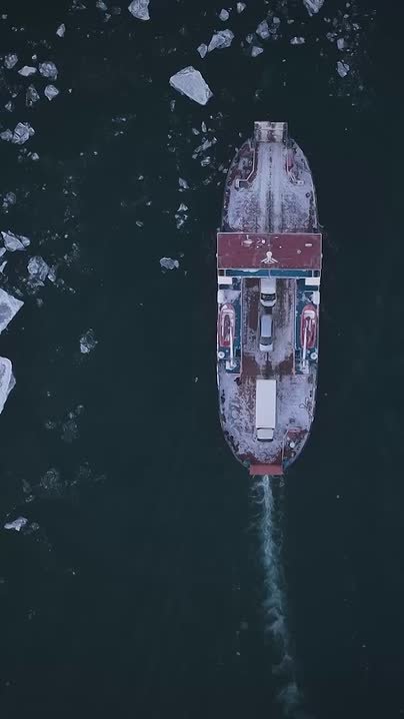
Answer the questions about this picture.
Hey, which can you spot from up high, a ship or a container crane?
ship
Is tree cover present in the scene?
No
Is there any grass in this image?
No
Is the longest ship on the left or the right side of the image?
right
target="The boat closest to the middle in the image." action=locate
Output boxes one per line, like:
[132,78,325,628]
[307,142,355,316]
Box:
[220,303,235,346]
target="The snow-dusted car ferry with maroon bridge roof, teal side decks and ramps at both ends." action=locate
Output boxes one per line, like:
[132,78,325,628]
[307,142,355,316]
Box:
[216,120,324,480]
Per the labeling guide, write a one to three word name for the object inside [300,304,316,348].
boat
